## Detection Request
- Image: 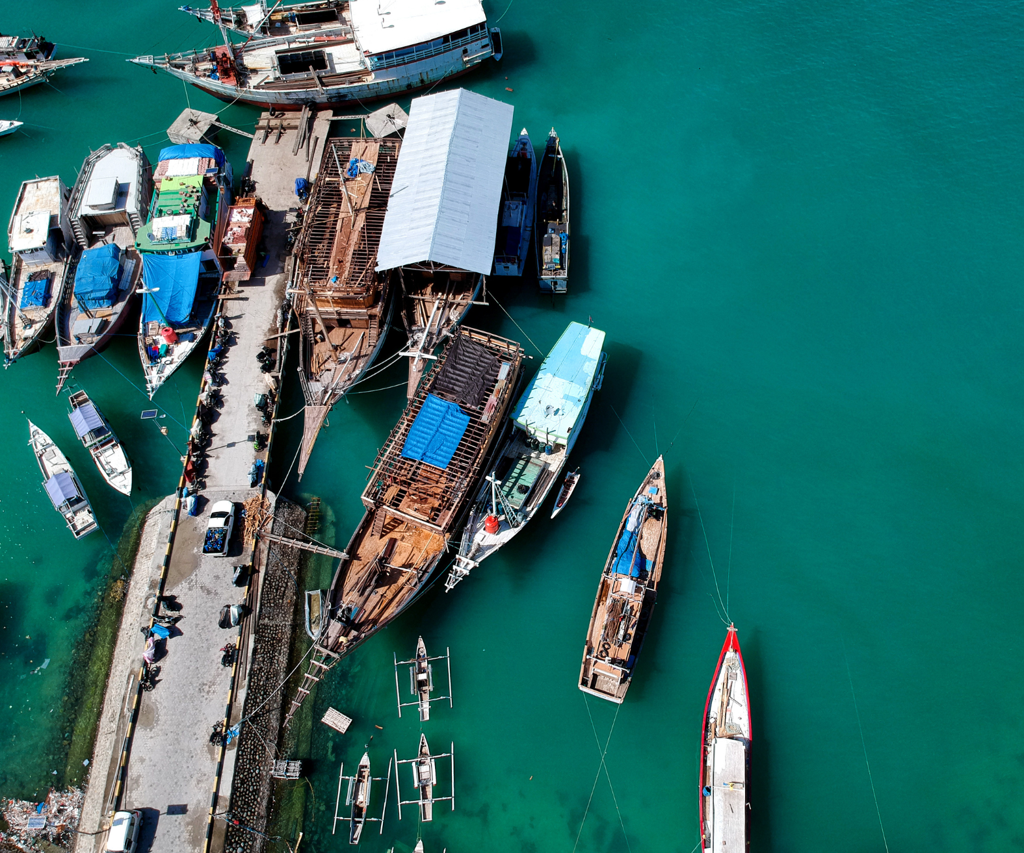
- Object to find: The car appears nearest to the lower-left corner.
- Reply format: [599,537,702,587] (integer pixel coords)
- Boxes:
[105,814,140,853]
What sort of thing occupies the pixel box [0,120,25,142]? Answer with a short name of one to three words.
boat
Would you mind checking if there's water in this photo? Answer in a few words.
Yes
